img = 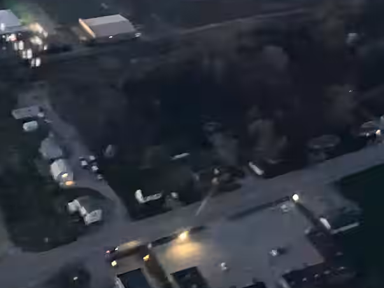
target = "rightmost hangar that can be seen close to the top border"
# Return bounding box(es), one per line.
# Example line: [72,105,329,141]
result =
[73,13,138,43]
